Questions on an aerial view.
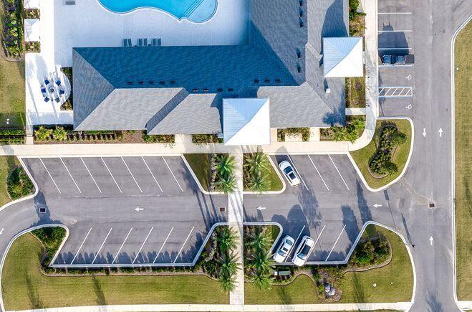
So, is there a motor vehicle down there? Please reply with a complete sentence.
Yes, this view includes a motor vehicle.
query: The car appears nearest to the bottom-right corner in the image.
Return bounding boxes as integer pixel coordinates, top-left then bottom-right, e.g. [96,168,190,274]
[291,235,314,264]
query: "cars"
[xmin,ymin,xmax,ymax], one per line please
[291,235,314,264]
[278,159,299,187]
[380,52,415,66]
[273,235,294,262]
